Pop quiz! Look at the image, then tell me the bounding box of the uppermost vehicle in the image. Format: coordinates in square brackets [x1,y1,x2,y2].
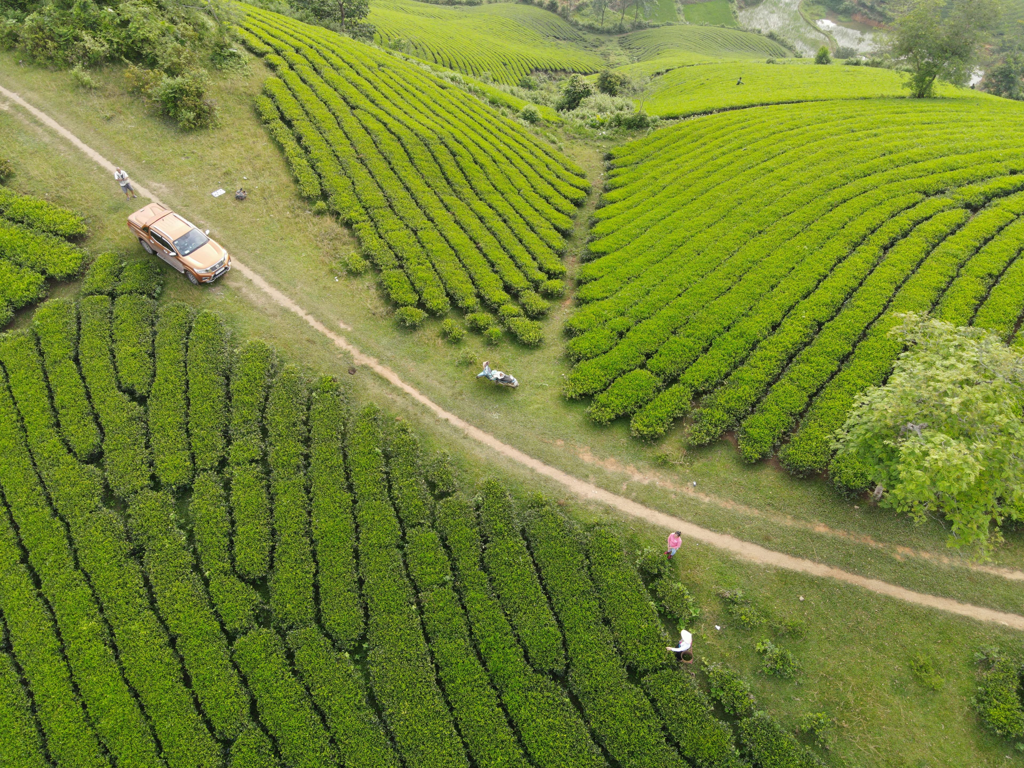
[127,207,234,285]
